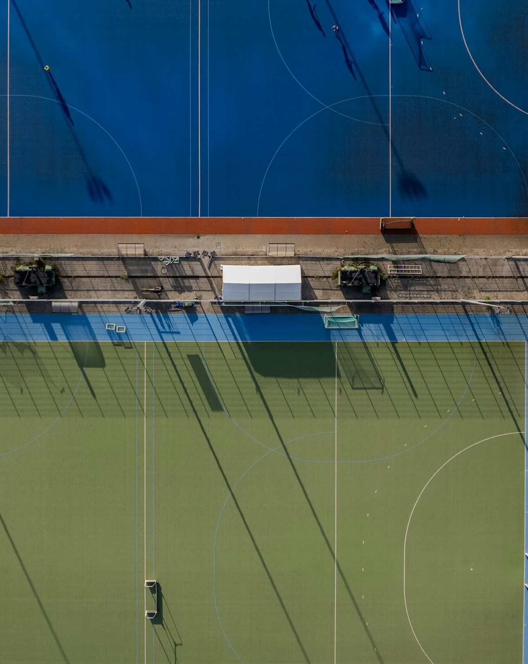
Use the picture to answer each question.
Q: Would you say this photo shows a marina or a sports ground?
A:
sports ground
